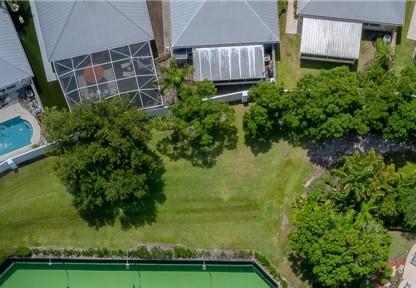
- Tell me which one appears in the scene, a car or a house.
house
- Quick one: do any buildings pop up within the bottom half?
No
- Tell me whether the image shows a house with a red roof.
No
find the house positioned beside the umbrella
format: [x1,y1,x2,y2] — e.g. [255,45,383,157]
[35,0,154,67]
